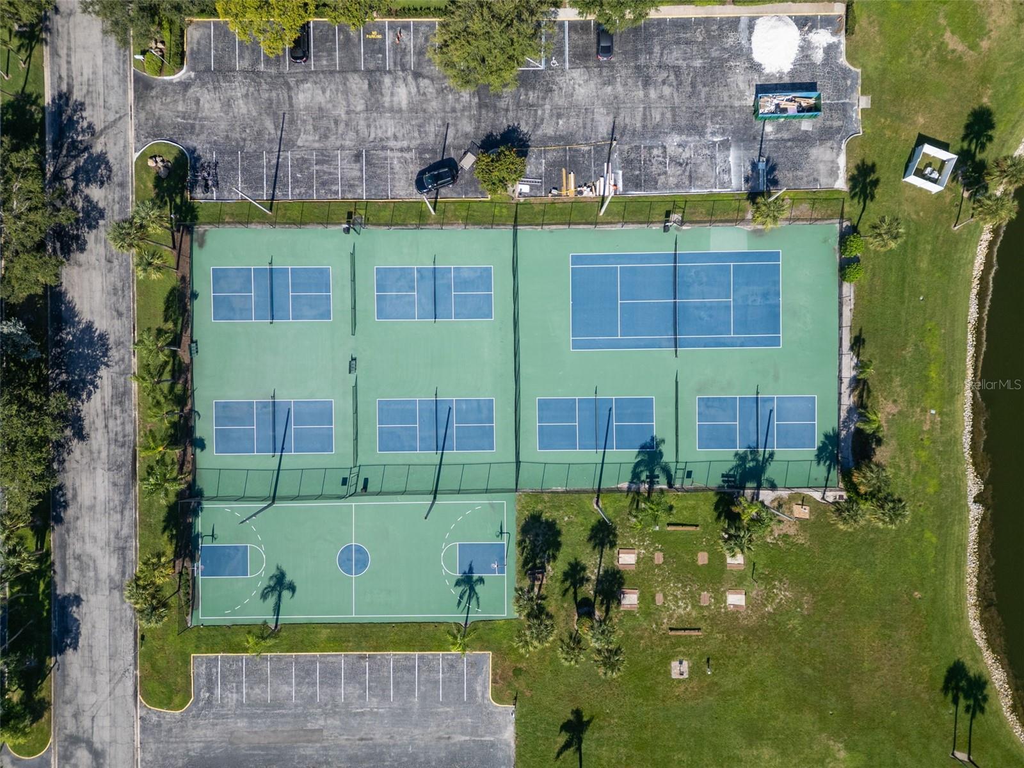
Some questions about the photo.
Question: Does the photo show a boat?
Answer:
No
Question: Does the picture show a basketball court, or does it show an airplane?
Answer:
basketball court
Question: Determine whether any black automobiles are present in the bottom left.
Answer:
No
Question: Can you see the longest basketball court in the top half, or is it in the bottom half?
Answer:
bottom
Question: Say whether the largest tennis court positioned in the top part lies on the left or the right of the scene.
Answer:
right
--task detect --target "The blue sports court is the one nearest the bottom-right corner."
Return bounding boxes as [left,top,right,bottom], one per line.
[697,395,817,451]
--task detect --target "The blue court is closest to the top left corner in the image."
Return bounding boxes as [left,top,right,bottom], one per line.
[212,266,332,322]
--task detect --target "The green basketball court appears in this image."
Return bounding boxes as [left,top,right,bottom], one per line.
[191,492,516,629]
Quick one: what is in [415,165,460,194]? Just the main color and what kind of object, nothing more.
black car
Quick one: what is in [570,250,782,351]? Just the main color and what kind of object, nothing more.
blue tennis court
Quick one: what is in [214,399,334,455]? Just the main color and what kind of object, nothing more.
blue sports court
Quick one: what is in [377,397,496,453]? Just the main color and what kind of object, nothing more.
blue sports court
